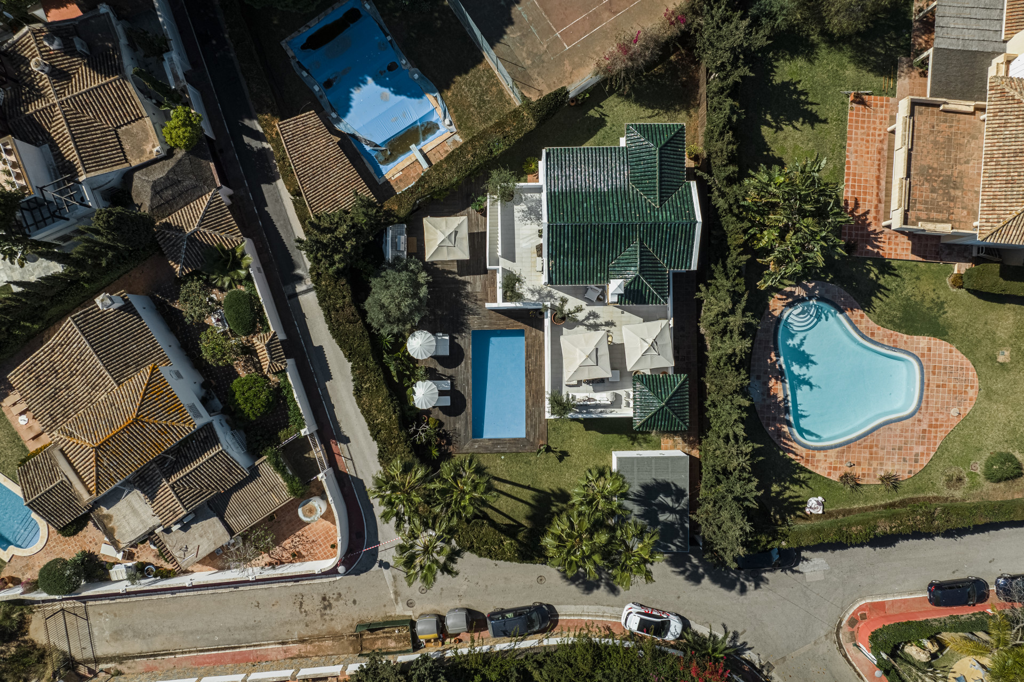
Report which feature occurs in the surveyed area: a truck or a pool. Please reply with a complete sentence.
It is a pool that can be seen here.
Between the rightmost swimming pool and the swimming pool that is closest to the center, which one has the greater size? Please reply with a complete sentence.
The rightmost swimming pool is larger than the swimming pool that is closest to the center.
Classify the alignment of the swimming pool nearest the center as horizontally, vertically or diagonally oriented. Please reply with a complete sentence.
In this picture, the swimming pool nearest the center lies vertically.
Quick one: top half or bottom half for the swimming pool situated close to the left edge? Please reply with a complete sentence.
It is in the bottom half that the swimming pool situated close to the left edge appears.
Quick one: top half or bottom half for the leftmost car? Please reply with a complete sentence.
You can find the leftmost car in the bottom half.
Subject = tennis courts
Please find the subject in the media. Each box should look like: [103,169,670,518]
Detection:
[479,0,698,97]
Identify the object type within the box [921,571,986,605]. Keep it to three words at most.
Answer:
car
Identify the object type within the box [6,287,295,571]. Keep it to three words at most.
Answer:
house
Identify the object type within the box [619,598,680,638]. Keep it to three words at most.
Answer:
car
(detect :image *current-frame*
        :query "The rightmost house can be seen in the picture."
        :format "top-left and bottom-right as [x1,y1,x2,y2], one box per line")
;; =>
[878,0,1024,265]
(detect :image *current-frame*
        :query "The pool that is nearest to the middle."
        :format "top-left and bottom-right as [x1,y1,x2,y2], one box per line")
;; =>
[471,329,526,439]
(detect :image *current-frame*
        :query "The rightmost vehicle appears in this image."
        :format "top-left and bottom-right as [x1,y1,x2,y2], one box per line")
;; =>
[988,572,1024,602]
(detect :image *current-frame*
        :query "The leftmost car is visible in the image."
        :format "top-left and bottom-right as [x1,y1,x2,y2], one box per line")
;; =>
[487,599,550,635]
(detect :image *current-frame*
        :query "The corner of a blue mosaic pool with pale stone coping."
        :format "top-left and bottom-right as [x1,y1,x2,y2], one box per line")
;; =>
[0,476,43,558]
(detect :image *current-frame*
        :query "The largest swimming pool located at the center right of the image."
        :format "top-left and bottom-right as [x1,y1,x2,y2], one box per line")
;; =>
[777,297,926,448]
